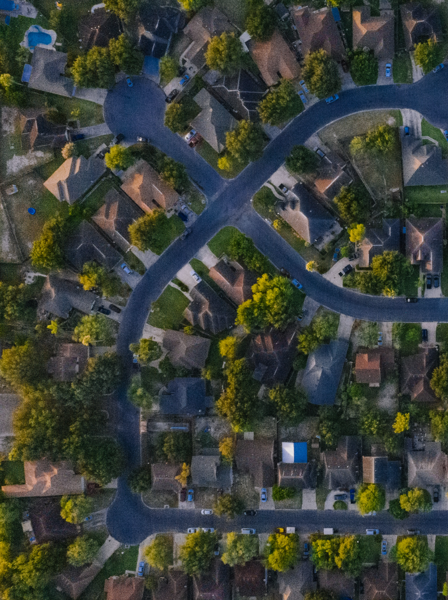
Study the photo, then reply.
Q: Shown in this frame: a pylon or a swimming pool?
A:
swimming pool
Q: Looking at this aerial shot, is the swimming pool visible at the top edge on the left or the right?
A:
left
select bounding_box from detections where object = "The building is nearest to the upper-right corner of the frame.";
[398,2,441,46]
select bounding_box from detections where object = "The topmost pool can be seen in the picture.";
[21,24,56,48]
